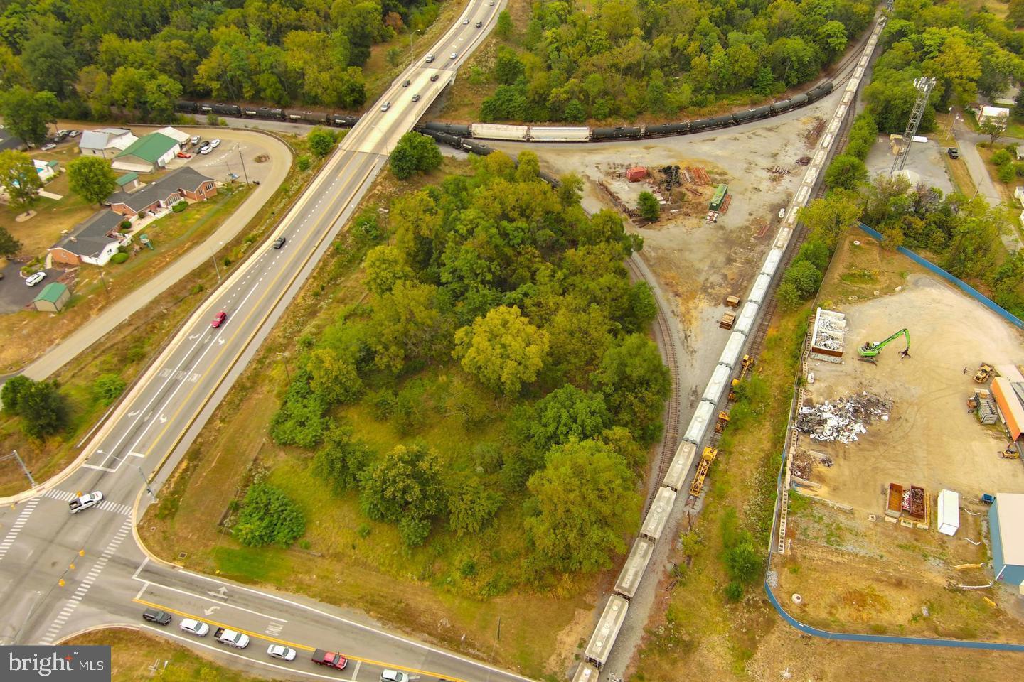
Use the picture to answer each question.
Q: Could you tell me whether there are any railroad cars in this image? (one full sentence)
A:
Yes, I can see a railroad car in this picture.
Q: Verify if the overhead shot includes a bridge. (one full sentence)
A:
Yes, there's a bridge here.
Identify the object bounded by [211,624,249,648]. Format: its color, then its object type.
white truck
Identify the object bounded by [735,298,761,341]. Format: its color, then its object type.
white rail car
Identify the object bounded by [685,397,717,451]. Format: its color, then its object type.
white rail car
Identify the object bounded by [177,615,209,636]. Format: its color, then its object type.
white car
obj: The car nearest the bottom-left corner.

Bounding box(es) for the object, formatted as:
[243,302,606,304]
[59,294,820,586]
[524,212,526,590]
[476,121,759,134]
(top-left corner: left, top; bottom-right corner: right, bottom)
[139,605,171,625]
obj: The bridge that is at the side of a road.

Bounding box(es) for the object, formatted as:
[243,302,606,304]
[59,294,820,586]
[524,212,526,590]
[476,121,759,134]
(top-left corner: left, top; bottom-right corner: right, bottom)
[334,63,461,156]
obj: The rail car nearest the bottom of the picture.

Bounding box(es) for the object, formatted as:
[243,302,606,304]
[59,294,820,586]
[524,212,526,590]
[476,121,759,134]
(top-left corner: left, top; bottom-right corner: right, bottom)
[571,658,600,682]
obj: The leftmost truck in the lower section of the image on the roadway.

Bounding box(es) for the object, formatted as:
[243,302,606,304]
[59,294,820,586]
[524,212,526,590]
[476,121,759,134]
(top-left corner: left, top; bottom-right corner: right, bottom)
[66,490,102,512]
